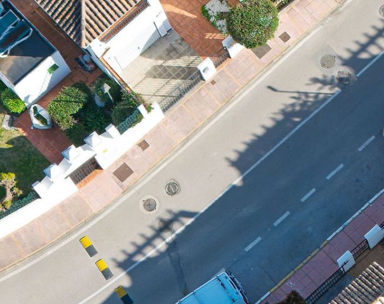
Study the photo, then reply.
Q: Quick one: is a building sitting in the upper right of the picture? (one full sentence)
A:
No, there's no building to be seen in the upper right of the picture.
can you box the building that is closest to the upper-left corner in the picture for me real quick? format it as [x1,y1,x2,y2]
[0,1,70,104]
